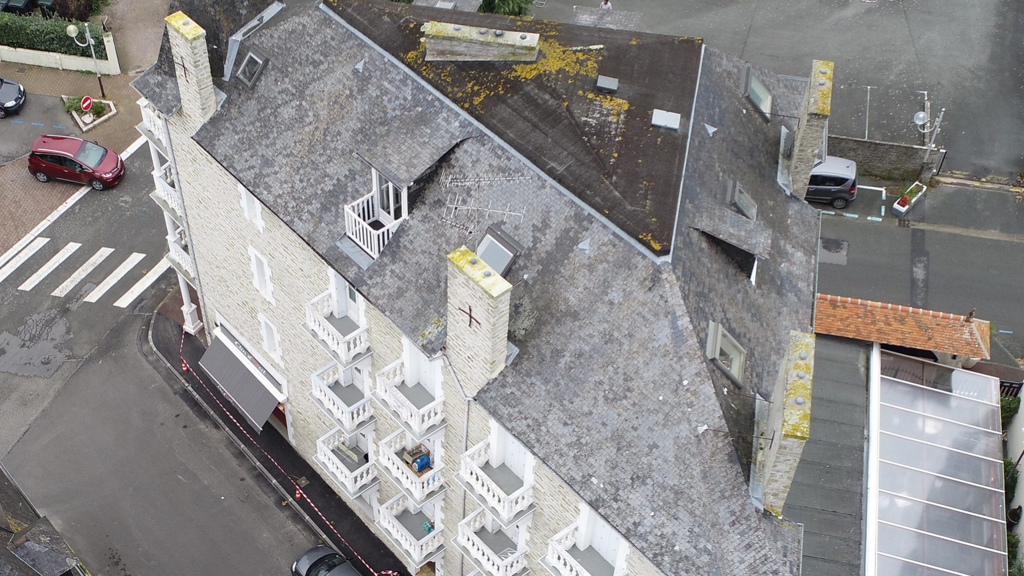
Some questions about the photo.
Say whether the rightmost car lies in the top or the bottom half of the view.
top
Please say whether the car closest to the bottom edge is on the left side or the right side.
left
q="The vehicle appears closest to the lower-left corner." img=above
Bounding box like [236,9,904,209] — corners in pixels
[286,539,365,576]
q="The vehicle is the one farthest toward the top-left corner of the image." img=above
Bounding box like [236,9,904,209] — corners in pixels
[0,76,29,117]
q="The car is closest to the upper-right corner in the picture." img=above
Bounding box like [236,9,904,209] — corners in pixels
[808,154,859,208]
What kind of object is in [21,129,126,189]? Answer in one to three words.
car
